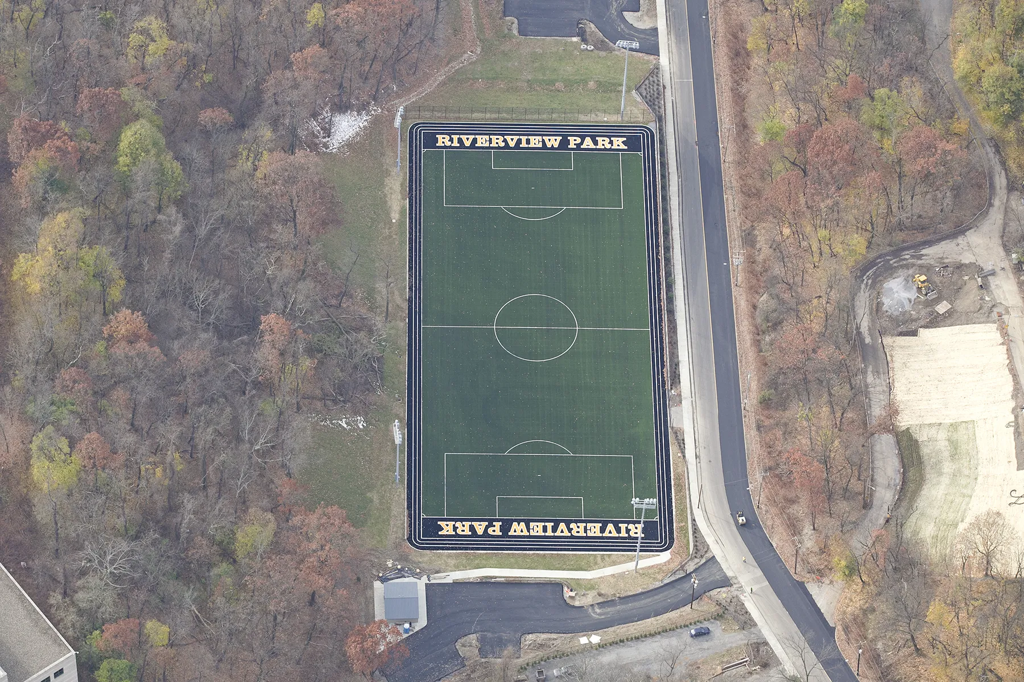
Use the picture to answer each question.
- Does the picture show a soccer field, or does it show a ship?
soccer field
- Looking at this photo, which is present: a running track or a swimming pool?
running track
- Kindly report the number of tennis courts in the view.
0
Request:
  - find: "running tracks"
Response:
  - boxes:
[407,120,673,554]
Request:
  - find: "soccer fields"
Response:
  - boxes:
[422,131,659,541]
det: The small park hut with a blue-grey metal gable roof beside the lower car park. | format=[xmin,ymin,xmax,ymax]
[384,581,418,623]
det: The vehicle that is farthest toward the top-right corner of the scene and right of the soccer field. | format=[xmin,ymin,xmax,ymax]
[914,277,937,304]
